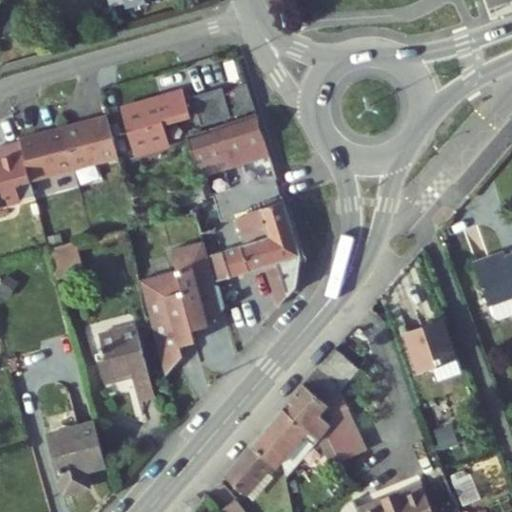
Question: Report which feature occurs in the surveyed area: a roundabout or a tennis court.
roundabout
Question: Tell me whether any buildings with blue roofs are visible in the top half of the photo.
No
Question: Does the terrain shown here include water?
No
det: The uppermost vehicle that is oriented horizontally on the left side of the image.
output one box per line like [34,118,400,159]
[159,74,183,86]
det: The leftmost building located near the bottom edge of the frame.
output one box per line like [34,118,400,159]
[48,422,106,496]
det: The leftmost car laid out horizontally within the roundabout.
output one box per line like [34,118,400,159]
[348,52,372,64]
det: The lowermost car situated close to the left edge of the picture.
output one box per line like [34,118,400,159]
[22,392,34,414]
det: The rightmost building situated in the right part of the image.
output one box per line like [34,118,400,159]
[472,248,512,321]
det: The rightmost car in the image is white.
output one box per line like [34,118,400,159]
[482,28,506,41]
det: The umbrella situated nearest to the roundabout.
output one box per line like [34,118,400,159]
[211,178,228,194]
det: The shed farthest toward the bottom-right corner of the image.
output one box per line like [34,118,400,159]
[451,473,480,507]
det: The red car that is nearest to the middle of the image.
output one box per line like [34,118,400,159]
[258,272,271,296]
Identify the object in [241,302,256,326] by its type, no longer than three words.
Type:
car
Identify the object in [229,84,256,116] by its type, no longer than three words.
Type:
building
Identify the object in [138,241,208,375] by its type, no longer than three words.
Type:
house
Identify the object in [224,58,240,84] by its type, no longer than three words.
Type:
vehicle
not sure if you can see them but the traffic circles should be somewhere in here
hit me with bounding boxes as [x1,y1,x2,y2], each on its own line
[304,42,436,173]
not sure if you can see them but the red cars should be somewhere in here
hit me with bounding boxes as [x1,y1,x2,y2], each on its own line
[61,338,71,354]
[258,272,271,296]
